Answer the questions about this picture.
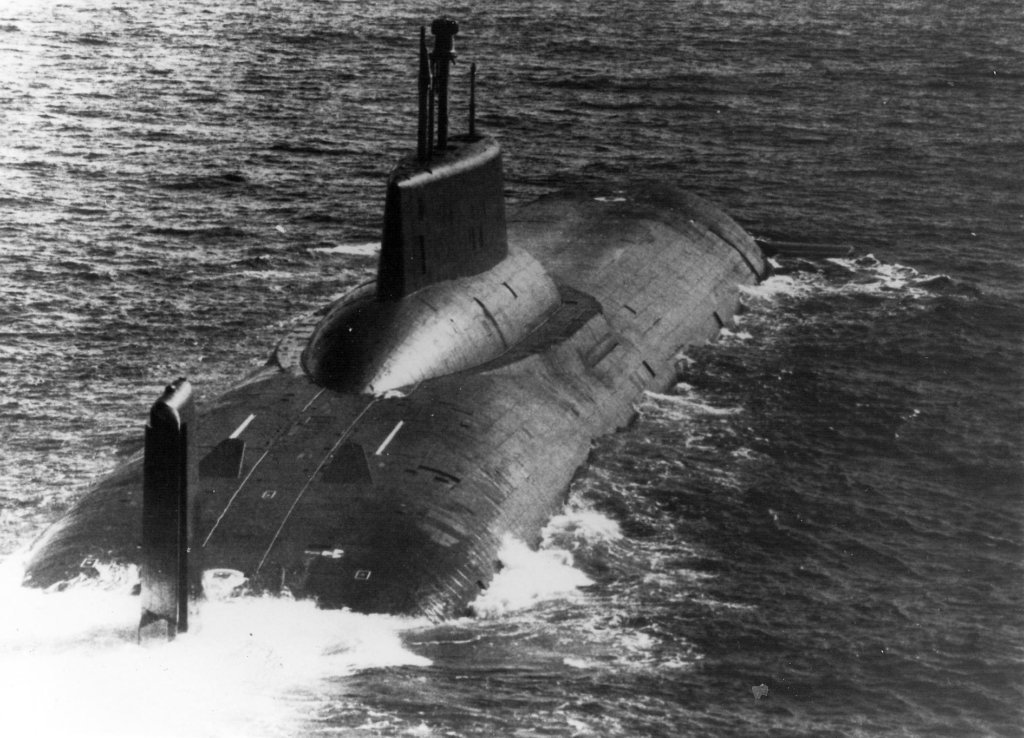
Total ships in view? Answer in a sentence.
In total, there is 1 ship in the scene.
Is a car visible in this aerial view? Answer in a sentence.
No, there's no car here.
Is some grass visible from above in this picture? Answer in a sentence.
No, there's no grass in this view.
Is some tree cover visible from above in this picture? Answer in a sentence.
No, there is no tree cover in the image.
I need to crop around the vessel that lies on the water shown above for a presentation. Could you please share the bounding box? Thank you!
[10,19,770,632]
